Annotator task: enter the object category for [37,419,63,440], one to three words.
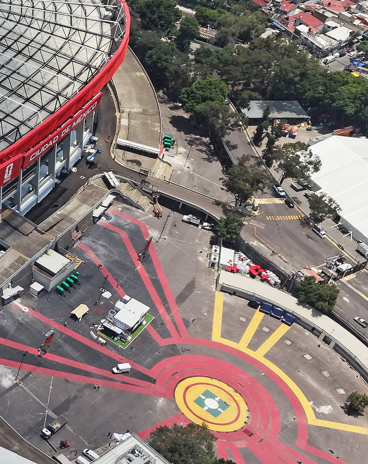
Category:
truck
